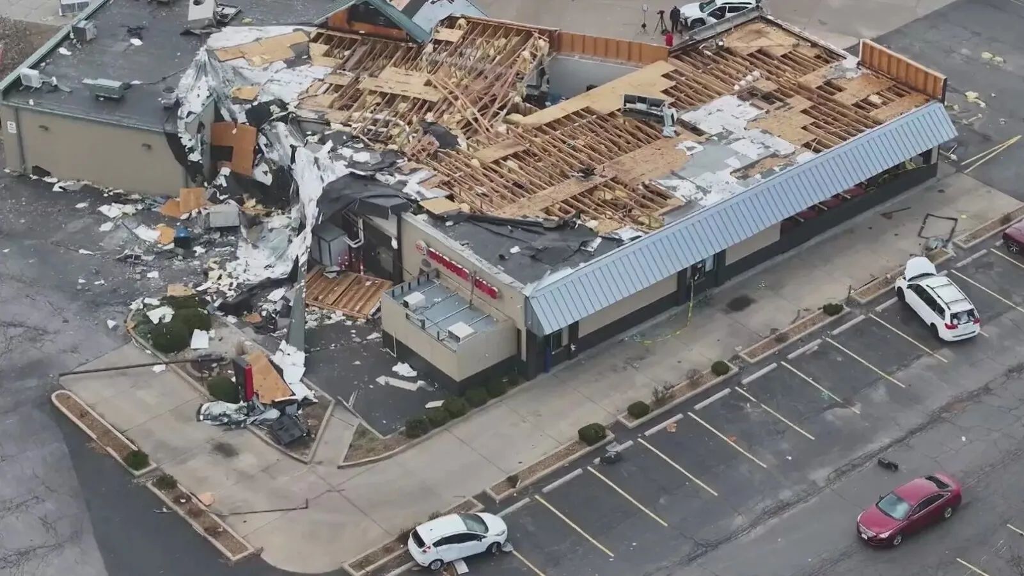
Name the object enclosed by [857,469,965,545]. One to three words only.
car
